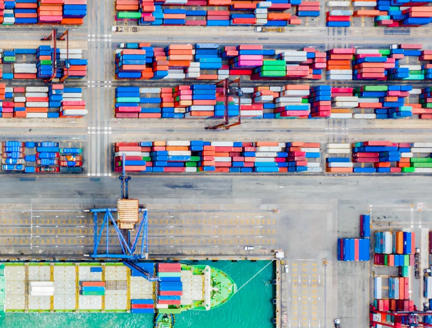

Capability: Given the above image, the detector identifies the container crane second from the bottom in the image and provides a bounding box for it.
[80,133,165,283]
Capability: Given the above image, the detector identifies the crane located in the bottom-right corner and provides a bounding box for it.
[360,304,430,328]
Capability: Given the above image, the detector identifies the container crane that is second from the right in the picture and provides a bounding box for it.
[204,78,242,129]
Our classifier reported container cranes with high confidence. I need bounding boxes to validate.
[360,304,430,328]
[80,133,165,283]
[204,78,242,129]
[40,29,71,82]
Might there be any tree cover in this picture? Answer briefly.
No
